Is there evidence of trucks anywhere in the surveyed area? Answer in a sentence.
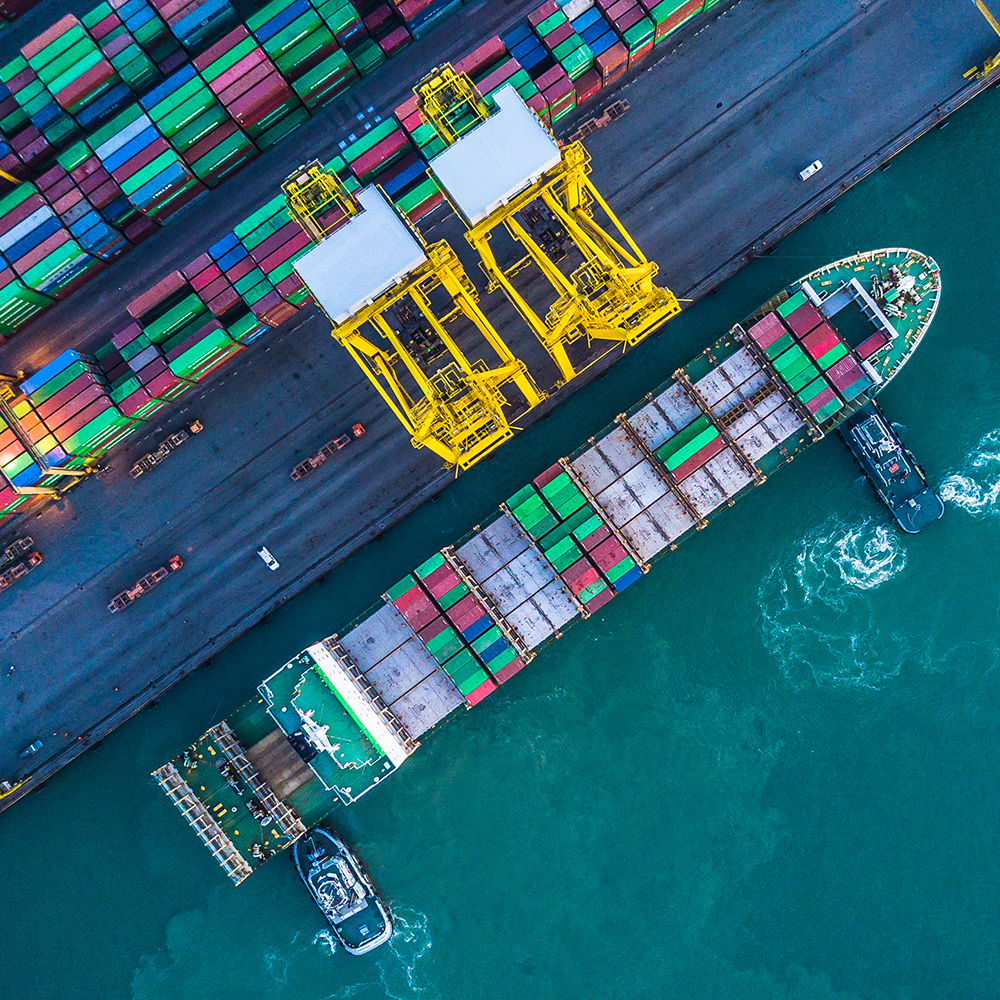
Yes, there's a truck here.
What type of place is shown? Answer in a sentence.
The area seen from above is a port.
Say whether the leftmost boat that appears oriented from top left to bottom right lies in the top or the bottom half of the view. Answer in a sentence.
It is in the bottom half that the leftmost boat that appears oriented from top left to bottom right appears.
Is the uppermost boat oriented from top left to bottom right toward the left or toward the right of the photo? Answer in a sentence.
You can find the uppermost boat oriented from top left to bottom right on the right side of the picture.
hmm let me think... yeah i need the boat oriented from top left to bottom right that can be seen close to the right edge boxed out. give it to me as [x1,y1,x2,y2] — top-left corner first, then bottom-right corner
[836,396,952,539]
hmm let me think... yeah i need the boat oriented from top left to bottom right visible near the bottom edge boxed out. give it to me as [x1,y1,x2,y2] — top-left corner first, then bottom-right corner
[292,825,397,959]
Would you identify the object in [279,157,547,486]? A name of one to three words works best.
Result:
container crane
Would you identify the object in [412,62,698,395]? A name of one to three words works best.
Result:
container crane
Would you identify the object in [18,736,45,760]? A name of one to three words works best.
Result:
truck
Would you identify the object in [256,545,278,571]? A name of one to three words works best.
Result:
truck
